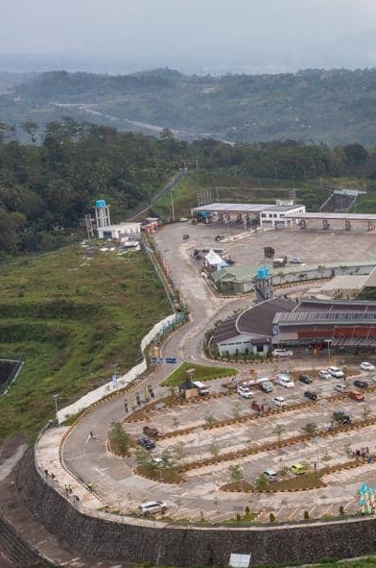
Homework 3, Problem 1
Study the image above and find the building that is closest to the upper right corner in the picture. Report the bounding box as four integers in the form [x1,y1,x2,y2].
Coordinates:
[259,199,306,230]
